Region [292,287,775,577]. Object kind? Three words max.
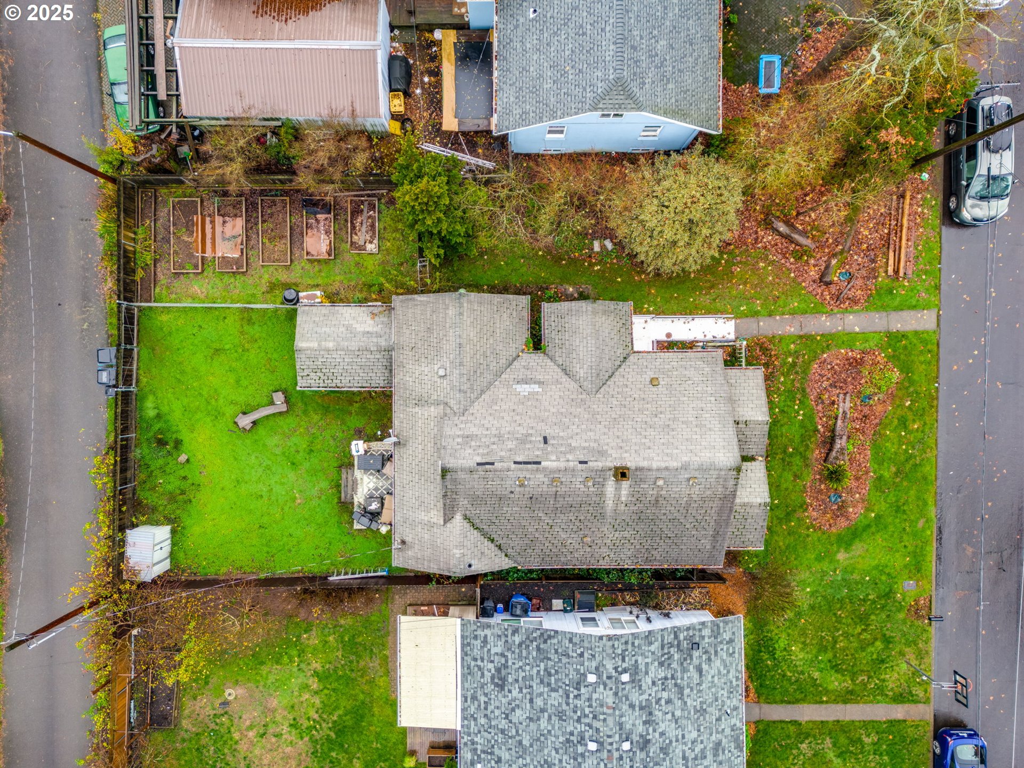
house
